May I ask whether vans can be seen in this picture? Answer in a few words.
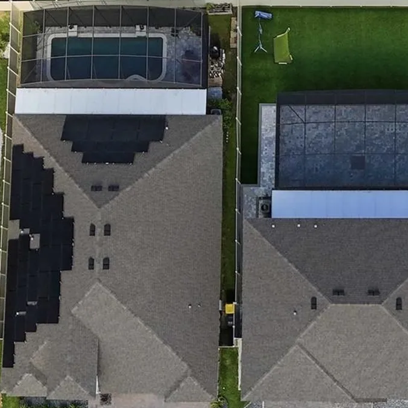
No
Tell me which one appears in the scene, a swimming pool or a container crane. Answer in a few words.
swimming pool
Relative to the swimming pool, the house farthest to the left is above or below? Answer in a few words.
below it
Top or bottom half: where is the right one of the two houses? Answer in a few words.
bottom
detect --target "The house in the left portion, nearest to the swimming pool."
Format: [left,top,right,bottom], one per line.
[1,88,224,402]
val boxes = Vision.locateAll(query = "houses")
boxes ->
[1,88,224,402]
[241,190,408,403]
